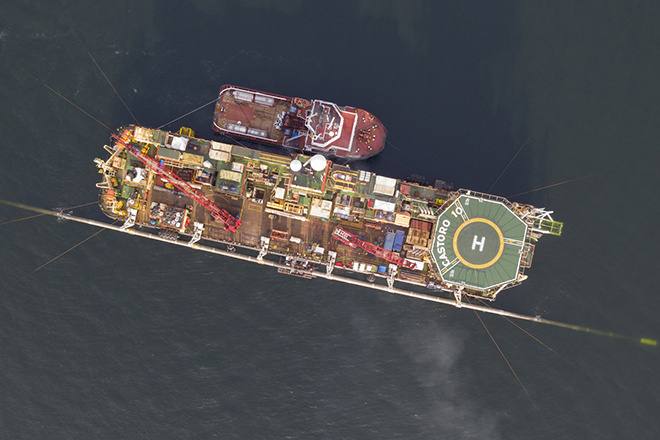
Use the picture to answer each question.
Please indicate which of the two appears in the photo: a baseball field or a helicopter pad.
helicopter pad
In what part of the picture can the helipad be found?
right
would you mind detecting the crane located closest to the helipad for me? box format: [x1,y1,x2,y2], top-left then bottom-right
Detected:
[331,227,418,271]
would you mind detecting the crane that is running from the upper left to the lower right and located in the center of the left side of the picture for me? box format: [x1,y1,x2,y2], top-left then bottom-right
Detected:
[112,132,247,231]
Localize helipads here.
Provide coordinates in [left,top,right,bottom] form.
[425,186,535,297]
